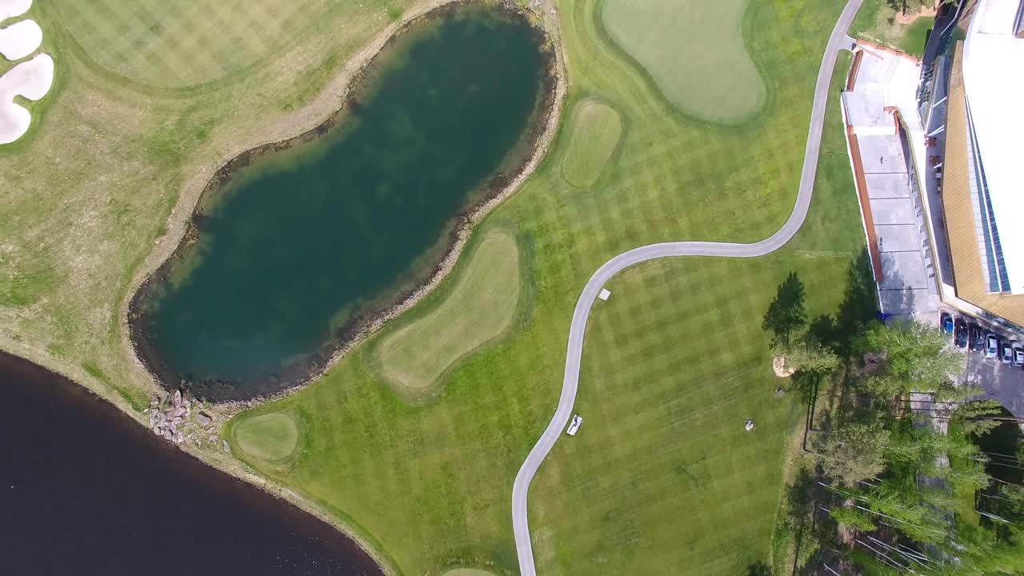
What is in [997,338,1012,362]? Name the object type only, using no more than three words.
car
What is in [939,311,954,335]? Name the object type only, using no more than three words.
car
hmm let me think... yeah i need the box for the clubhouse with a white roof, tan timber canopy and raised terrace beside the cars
[839,0,1024,349]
